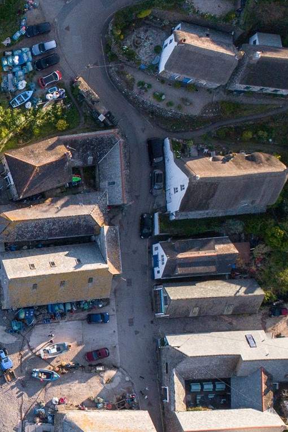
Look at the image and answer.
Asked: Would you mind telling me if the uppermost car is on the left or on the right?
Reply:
left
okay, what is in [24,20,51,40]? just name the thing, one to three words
car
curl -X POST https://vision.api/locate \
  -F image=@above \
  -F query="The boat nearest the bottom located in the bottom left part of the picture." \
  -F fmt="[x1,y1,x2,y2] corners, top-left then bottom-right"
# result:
[30,368,61,382]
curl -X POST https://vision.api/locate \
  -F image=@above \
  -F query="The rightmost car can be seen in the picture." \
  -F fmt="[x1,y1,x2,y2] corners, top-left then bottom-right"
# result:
[267,305,288,318]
